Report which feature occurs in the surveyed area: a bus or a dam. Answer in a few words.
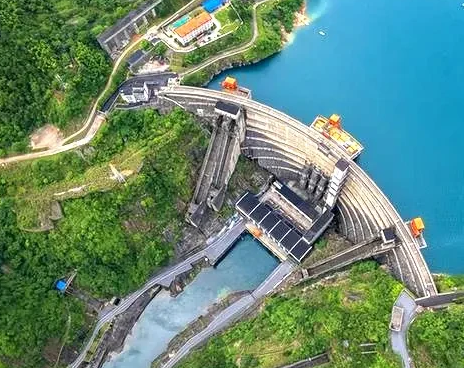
dam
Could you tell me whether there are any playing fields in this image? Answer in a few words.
No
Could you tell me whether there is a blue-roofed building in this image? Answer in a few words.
Yes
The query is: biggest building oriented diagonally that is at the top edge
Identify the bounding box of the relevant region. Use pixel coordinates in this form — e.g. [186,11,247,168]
[175,12,213,44]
